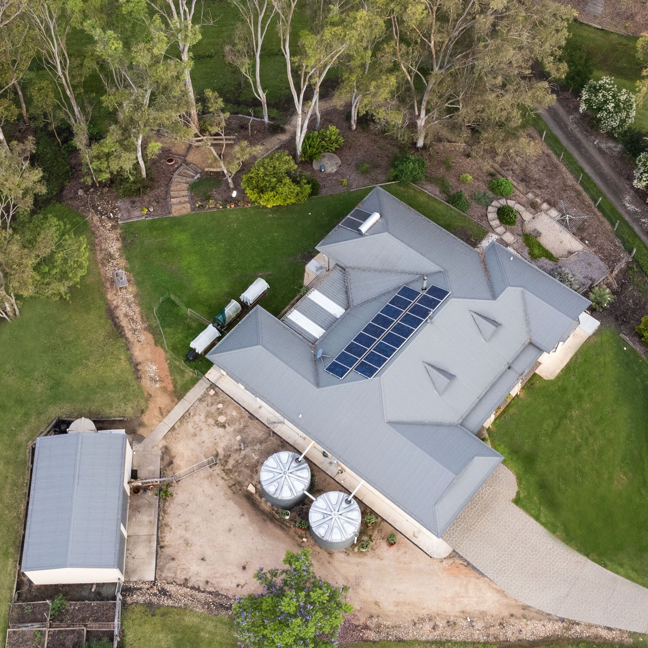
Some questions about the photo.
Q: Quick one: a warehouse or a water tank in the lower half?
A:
water tank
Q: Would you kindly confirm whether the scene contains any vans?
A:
No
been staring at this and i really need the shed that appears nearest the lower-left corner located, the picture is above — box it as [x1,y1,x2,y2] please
[20,431,132,582]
